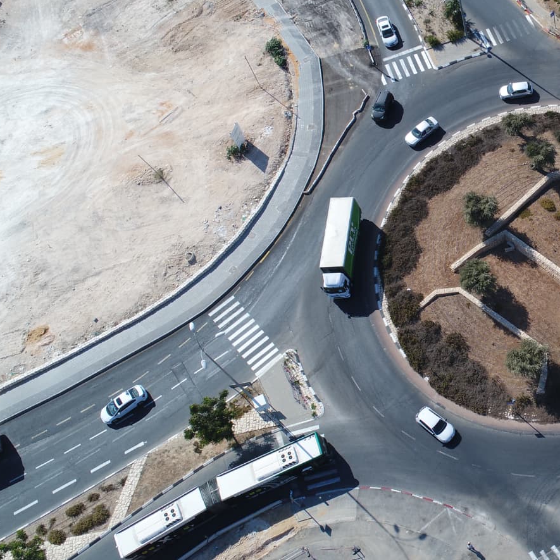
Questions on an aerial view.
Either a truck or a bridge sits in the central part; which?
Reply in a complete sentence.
It is a truck that can be seen in the central part.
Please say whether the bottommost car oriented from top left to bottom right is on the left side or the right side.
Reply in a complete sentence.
The bottommost car oriented from top left to bottom right is on the right side of the image.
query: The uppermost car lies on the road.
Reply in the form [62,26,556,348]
[376,15,400,50]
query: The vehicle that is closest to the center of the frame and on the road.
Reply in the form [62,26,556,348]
[318,198,359,304]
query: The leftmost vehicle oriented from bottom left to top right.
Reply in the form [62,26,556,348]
[101,383,151,426]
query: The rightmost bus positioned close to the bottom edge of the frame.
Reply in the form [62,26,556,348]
[113,428,331,560]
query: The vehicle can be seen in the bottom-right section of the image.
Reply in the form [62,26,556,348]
[414,405,457,447]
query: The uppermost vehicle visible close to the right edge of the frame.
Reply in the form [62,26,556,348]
[498,81,535,101]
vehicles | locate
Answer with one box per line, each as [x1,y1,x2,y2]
[113,428,331,560]
[101,383,151,426]
[403,115,443,148]
[414,405,457,447]
[369,88,396,126]
[498,81,535,101]
[318,198,359,304]
[376,15,400,50]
